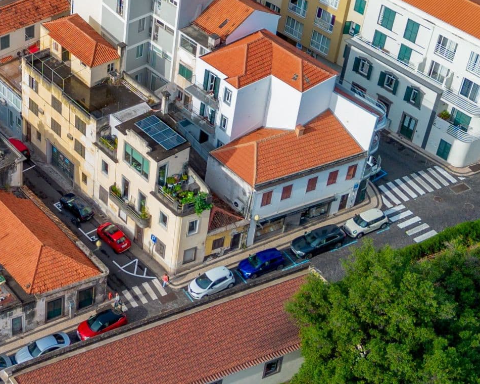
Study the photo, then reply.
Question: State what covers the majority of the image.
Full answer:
Most of the picture is covered by buildings.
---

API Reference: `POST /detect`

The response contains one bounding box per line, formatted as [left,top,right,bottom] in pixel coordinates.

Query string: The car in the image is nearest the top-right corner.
[360,152,388,186]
